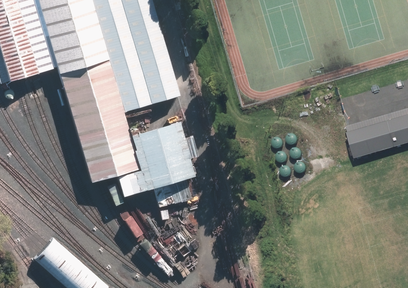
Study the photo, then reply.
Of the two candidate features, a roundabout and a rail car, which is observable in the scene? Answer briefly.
rail car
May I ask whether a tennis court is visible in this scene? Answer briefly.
Yes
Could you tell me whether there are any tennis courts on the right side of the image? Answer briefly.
Yes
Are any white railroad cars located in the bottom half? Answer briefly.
Yes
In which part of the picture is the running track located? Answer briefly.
top right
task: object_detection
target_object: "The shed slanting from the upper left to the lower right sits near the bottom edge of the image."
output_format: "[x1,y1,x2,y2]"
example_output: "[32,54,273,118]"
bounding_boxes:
[37,238,108,288]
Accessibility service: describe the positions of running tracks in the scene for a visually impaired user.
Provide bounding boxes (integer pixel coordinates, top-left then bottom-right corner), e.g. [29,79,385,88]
[215,0,408,100]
